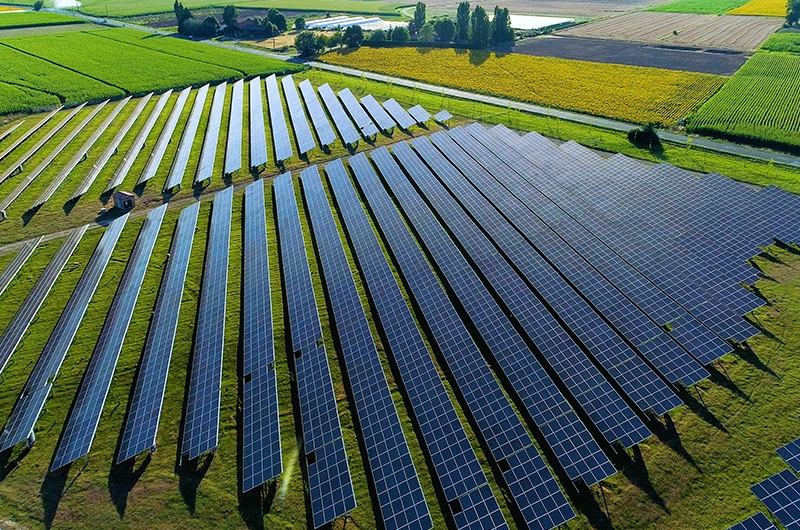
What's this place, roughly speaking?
solar farm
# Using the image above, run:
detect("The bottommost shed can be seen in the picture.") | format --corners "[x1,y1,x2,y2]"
[109,188,136,209]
